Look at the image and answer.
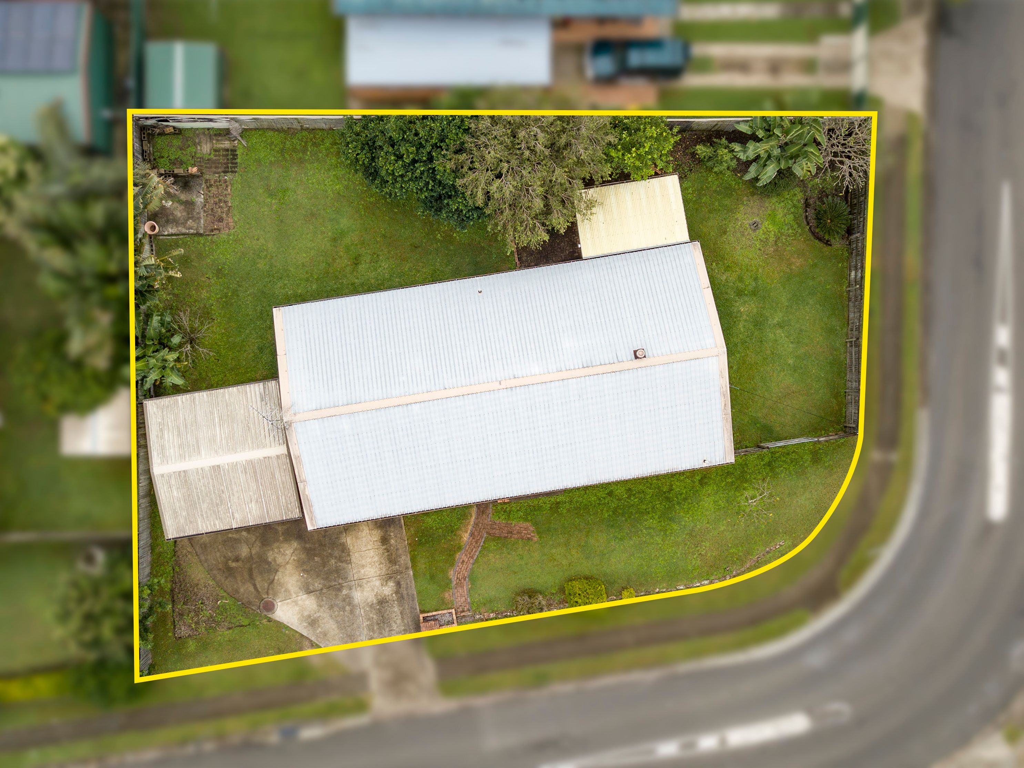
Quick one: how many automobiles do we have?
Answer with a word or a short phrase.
one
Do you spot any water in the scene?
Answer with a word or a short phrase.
No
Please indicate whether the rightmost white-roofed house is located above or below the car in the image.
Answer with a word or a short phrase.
below it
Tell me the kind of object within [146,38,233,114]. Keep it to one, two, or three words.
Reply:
shed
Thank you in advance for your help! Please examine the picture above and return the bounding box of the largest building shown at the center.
[273,237,734,533]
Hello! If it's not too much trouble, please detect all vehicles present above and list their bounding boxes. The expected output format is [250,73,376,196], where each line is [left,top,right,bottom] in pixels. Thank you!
[584,28,690,79]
